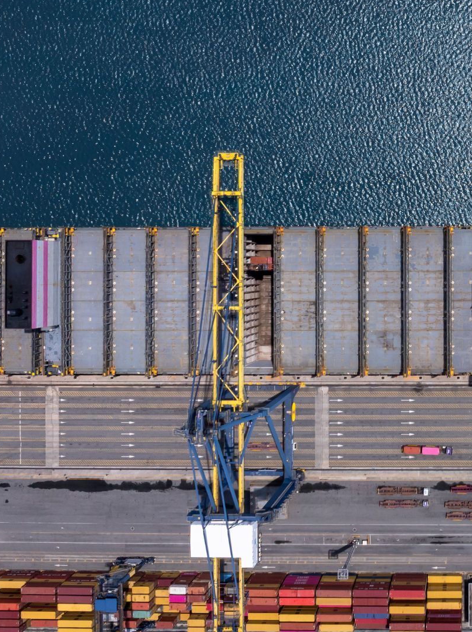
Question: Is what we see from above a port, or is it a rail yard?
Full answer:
This image shows a port.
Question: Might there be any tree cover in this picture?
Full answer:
No, tree cover can't be seen anywhere here.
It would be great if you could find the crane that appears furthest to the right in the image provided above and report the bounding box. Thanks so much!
[176,150,314,632]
